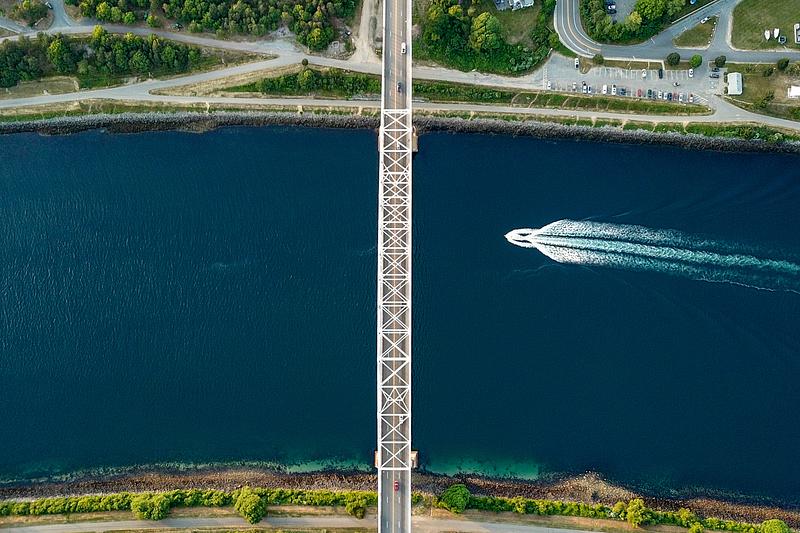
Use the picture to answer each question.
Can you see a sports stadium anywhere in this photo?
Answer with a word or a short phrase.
No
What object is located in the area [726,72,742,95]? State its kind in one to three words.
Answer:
building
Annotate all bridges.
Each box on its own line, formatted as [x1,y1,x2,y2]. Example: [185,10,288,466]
[375,0,419,533]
